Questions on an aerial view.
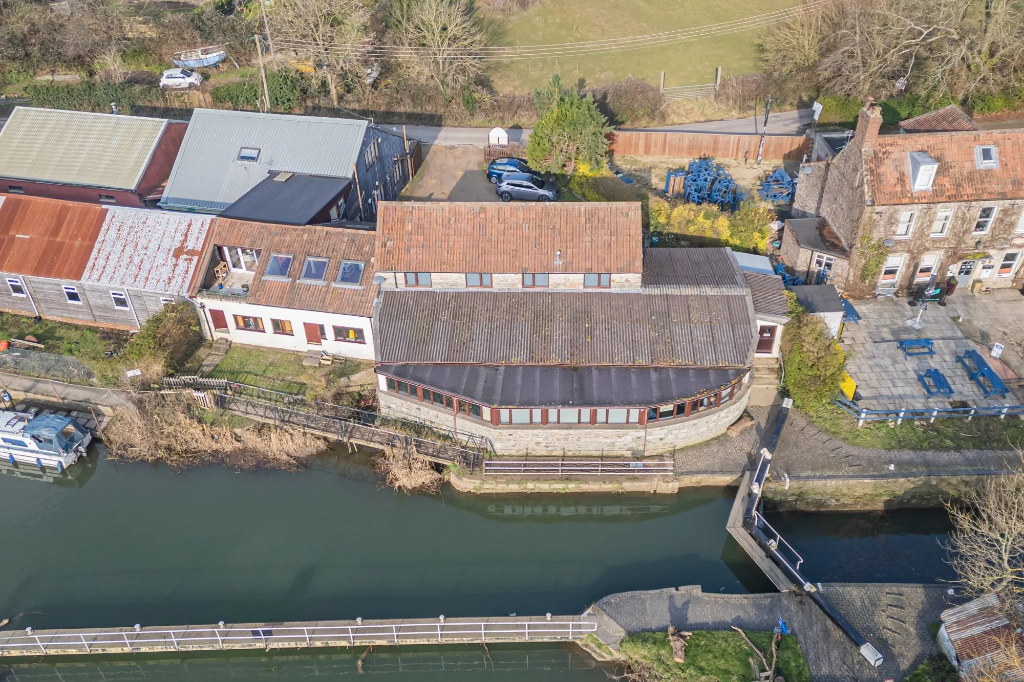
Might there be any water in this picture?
Yes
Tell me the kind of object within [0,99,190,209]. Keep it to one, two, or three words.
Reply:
building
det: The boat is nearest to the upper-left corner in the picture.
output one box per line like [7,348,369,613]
[155,44,229,65]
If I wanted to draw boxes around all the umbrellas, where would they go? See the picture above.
[904,280,931,329]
